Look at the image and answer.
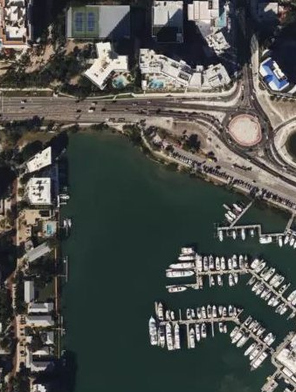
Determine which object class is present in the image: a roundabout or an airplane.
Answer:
roundabout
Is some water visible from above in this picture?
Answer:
Yes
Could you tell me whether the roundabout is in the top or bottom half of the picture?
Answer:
top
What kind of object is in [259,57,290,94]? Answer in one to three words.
building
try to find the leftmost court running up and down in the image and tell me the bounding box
[71,7,86,38]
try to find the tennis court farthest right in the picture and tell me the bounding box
[86,7,99,38]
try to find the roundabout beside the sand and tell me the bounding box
[220,106,269,154]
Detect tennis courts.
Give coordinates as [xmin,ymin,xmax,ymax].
[86,7,99,38]
[71,7,86,38]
